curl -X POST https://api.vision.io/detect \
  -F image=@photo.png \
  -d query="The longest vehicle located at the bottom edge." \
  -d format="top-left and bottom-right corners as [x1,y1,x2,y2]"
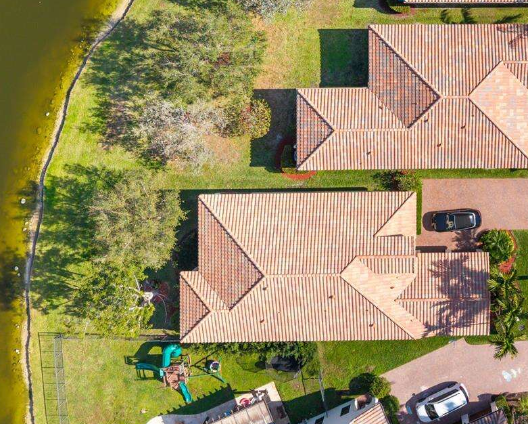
[415,379,469,419]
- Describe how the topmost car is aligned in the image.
horizontally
